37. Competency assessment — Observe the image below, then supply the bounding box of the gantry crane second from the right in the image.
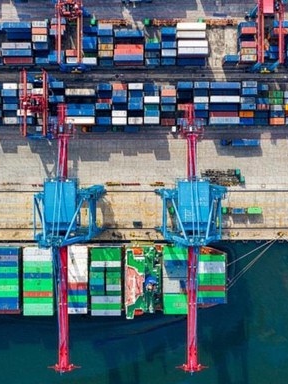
[151,104,222,378]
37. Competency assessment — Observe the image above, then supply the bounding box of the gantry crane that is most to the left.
[19,69,60,141]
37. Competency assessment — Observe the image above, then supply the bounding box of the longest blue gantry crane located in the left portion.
[32,104,110,378]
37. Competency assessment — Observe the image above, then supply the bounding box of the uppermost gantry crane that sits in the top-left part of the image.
[53,0,91,78]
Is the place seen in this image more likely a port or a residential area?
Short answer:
port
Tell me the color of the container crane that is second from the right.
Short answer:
blue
